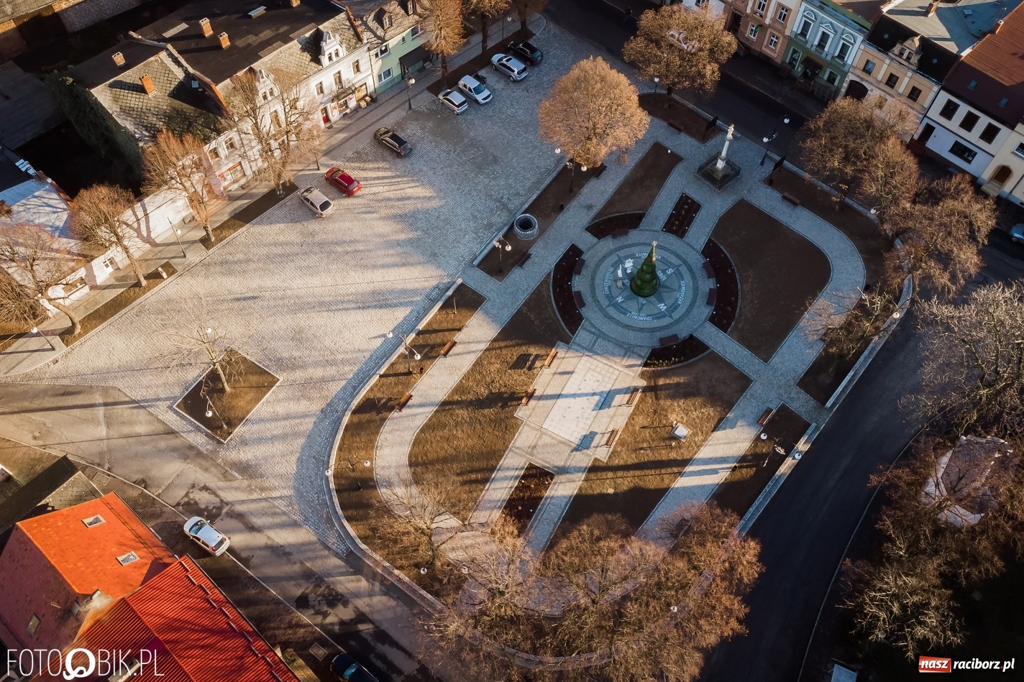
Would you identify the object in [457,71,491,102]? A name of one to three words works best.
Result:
car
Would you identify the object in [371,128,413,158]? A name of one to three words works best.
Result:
car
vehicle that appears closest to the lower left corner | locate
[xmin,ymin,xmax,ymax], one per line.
[181,520,230,560]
